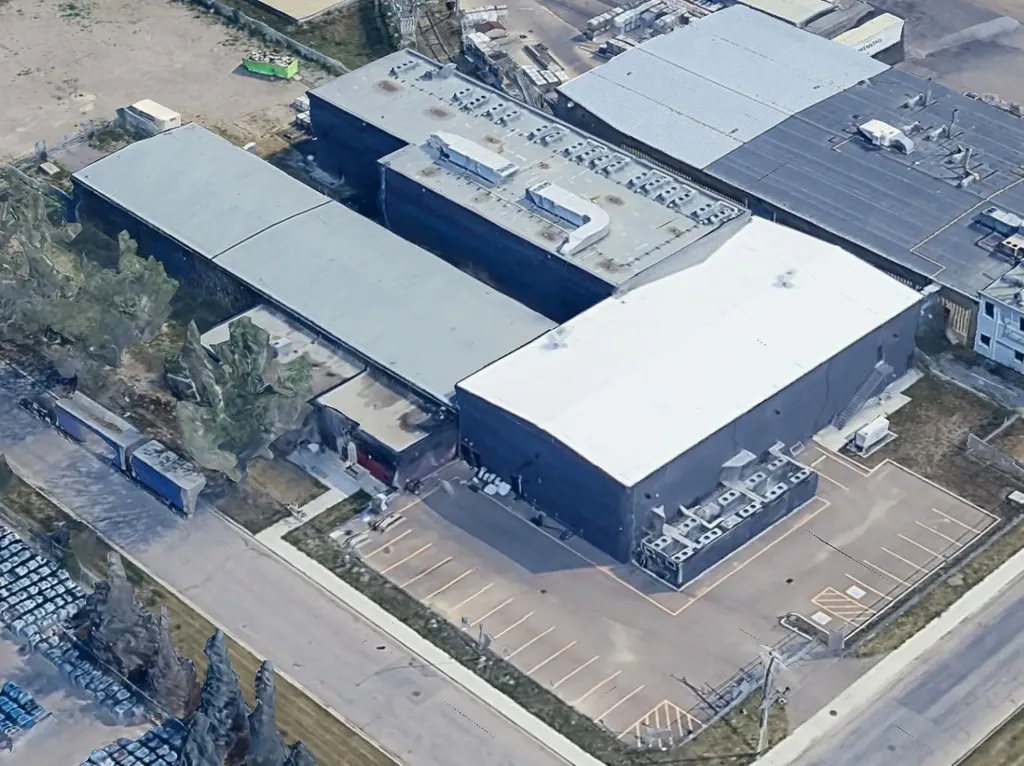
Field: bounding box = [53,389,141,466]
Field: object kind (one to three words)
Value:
trailer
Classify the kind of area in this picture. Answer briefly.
industrial area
